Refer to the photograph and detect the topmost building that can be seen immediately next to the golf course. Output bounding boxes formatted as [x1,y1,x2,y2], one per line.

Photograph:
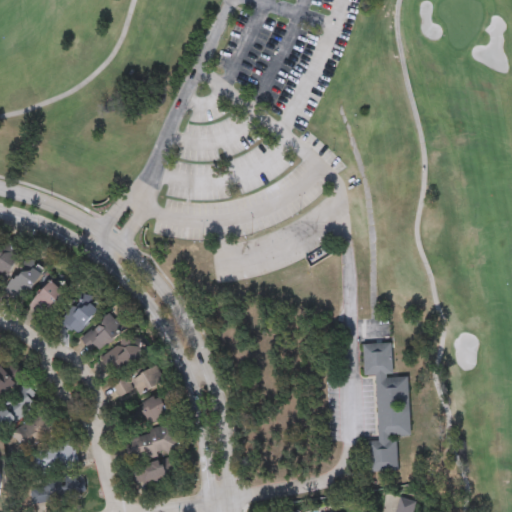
[364,343,412,472]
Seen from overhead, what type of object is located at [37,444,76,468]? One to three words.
house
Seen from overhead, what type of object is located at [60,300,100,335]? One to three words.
house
